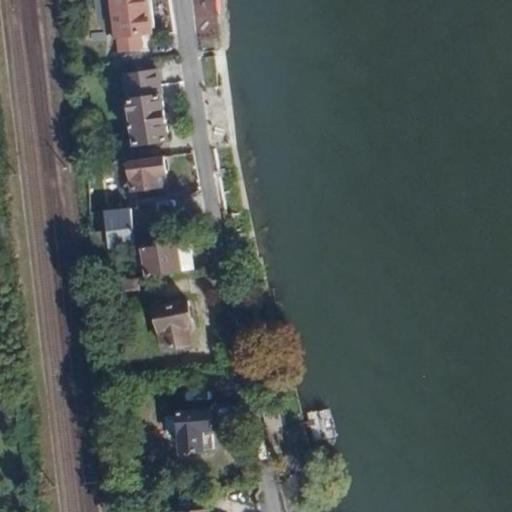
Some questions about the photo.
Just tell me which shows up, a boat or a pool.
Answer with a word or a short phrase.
boat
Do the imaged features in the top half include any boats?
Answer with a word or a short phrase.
No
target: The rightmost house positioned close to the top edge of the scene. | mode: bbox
[193,0,225,54]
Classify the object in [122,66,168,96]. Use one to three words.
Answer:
house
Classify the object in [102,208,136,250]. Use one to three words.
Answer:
house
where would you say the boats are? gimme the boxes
[306,408,339,446]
